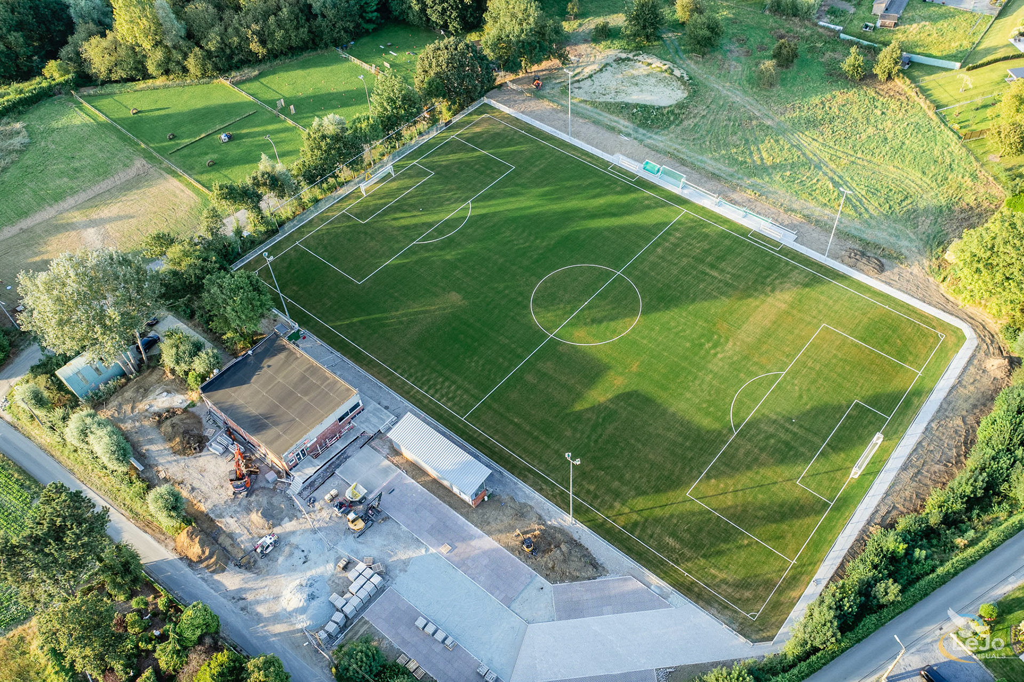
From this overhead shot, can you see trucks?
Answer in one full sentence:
Yes, there's a truck down there.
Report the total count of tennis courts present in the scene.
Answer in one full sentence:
There are no tennis courts in this view.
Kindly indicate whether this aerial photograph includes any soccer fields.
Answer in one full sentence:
Yes, you can see a soccer field in this photo.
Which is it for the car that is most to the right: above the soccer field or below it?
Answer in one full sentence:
Looking at the photo, you'll find the car that is most to the right below the soccer field.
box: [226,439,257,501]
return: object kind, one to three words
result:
work vehicle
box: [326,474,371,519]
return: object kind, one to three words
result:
truck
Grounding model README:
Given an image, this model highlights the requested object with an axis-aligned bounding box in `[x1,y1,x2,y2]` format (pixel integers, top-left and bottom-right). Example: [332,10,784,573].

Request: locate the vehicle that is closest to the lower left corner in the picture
[218,533,283,580]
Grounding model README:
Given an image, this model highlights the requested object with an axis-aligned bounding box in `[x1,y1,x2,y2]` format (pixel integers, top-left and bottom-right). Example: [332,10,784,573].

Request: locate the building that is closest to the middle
[385,413,494,507]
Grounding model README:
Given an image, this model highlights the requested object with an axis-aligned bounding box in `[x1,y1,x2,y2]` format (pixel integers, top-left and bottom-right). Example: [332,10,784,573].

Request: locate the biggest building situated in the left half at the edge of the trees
[198,331,362,471]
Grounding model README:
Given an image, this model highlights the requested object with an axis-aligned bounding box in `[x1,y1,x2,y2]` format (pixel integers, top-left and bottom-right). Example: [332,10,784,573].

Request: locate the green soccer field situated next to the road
[232,103,967,644]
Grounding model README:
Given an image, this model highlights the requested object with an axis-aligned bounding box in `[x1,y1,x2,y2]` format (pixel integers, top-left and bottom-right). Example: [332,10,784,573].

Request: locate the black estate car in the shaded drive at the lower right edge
[920,659,958,682]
